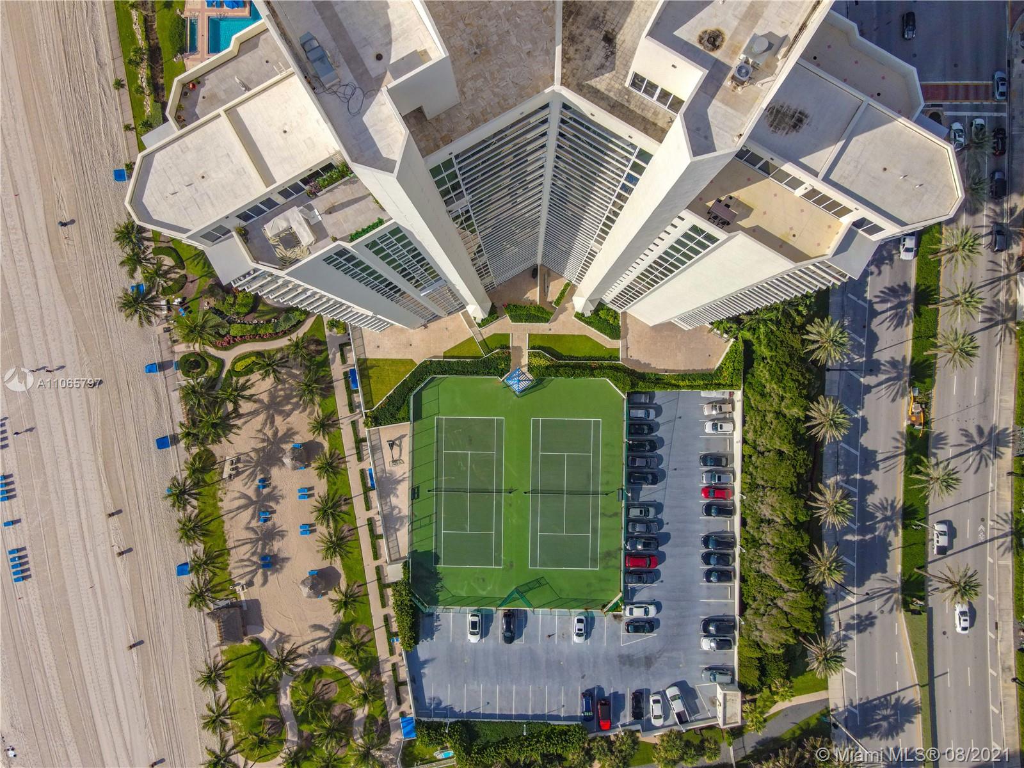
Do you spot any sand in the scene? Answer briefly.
Yes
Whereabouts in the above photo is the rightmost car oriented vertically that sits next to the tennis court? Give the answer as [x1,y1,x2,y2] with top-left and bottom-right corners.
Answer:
[573,613,587,643]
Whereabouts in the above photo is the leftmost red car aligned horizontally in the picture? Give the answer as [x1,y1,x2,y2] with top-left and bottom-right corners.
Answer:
[626,554,657,569]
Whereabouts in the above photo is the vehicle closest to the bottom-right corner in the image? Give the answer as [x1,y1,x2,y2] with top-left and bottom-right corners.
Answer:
[953,602,970,633]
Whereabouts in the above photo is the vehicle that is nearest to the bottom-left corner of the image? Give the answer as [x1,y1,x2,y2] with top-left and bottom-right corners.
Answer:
[467,611,481,642]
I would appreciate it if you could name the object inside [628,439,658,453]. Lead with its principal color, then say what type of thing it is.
black car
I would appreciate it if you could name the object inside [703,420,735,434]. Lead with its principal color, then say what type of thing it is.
white car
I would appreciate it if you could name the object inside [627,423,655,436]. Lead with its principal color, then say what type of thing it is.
black vehicle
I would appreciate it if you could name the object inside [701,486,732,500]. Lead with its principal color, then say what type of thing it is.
red car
